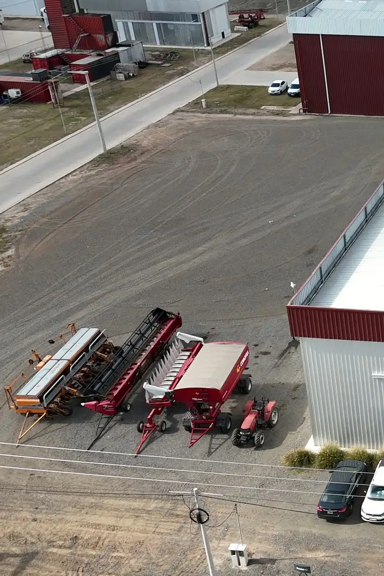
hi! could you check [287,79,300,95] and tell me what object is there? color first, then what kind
white vehicle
